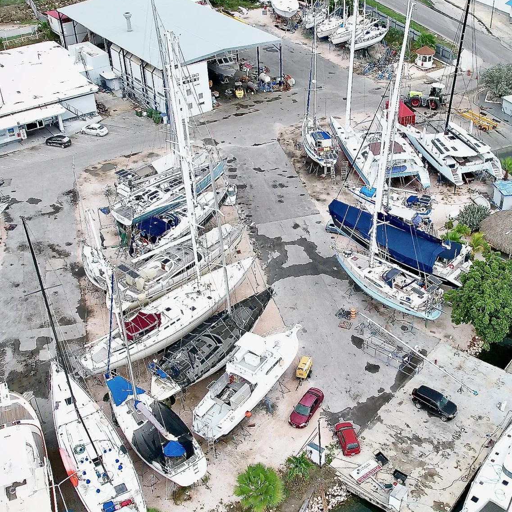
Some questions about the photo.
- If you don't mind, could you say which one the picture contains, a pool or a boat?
boat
